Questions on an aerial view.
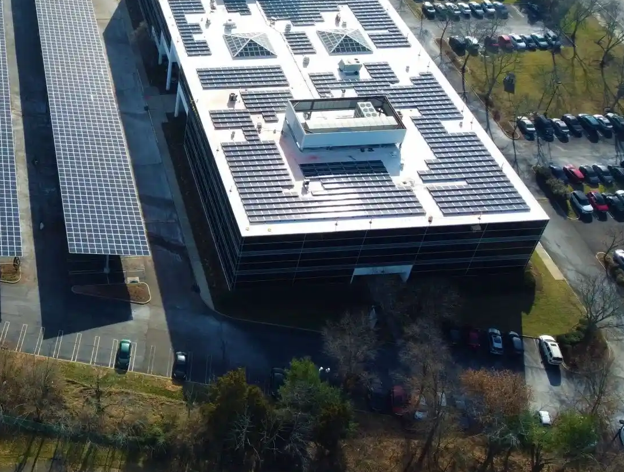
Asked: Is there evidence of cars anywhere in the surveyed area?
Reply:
Yes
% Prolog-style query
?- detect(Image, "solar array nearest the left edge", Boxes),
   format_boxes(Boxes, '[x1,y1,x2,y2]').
[168,0,210,57]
